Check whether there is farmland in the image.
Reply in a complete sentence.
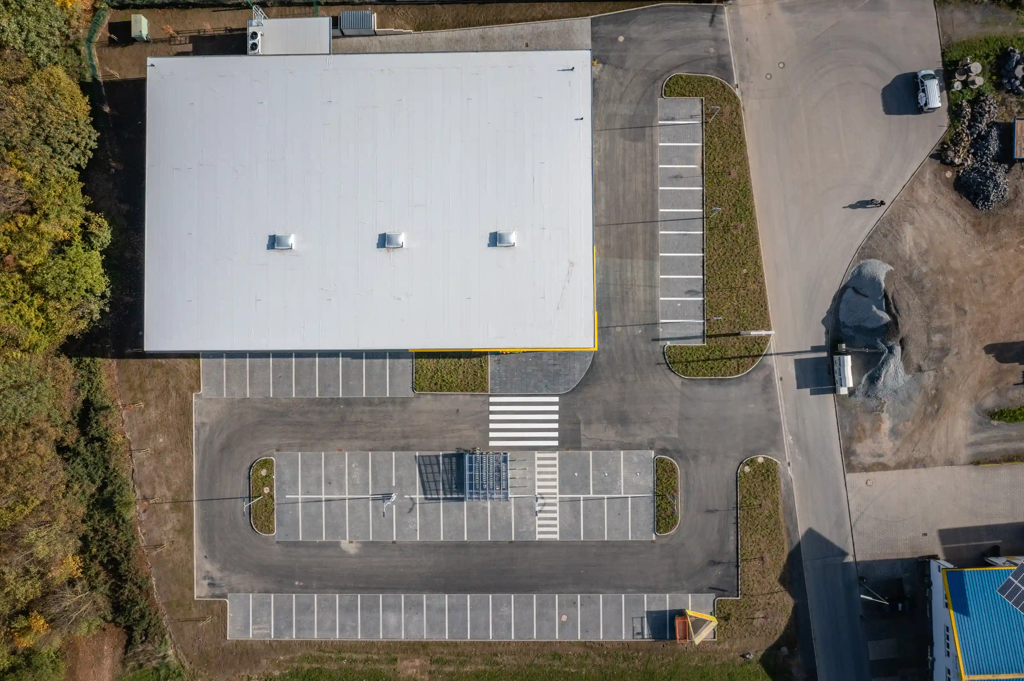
No, there is no farmland in the image.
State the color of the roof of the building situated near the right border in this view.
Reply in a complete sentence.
From above, the roof of the building situated near the right border looks blue.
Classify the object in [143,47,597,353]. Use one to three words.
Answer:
building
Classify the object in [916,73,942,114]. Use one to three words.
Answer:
vehicle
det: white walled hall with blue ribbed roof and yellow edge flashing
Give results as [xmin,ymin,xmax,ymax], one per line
[933,560,1024,681]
